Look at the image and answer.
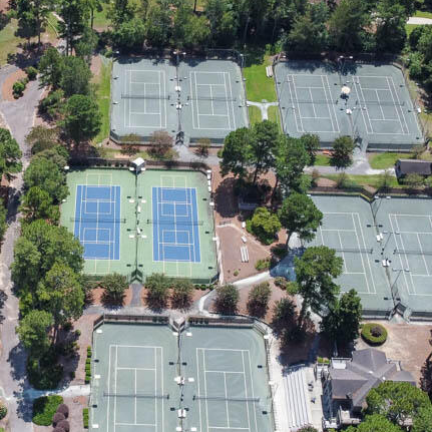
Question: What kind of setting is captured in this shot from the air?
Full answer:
The picture captures a sports ground.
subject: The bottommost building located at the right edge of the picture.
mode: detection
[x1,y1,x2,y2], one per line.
[306,343,419,432]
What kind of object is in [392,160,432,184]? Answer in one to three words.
shed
